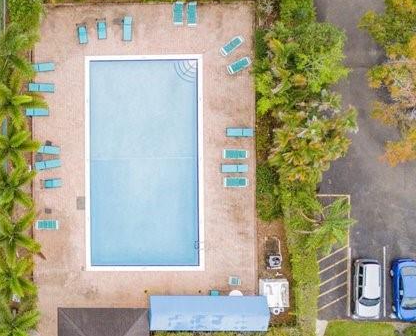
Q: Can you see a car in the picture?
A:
Yes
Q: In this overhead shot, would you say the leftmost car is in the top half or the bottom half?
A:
bottom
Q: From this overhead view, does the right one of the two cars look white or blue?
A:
blue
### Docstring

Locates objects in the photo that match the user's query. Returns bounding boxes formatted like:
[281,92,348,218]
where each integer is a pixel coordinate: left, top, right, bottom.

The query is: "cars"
[389,259,416,323]
[352,259,386,321]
